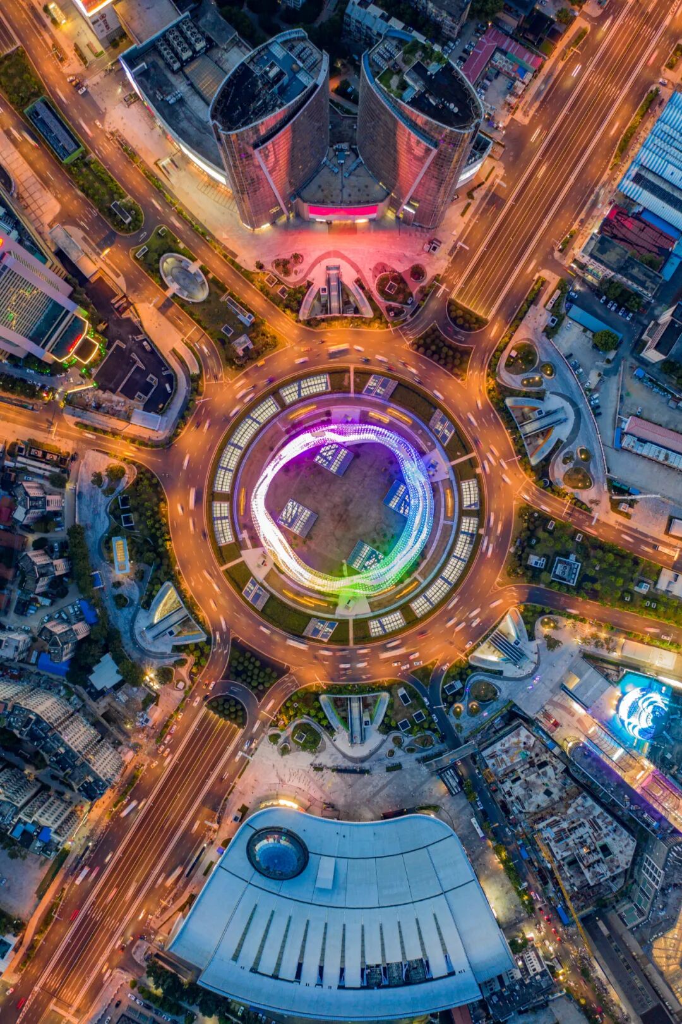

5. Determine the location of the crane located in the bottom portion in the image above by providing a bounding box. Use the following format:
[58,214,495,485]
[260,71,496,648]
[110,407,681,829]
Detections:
[527,826,594,957]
